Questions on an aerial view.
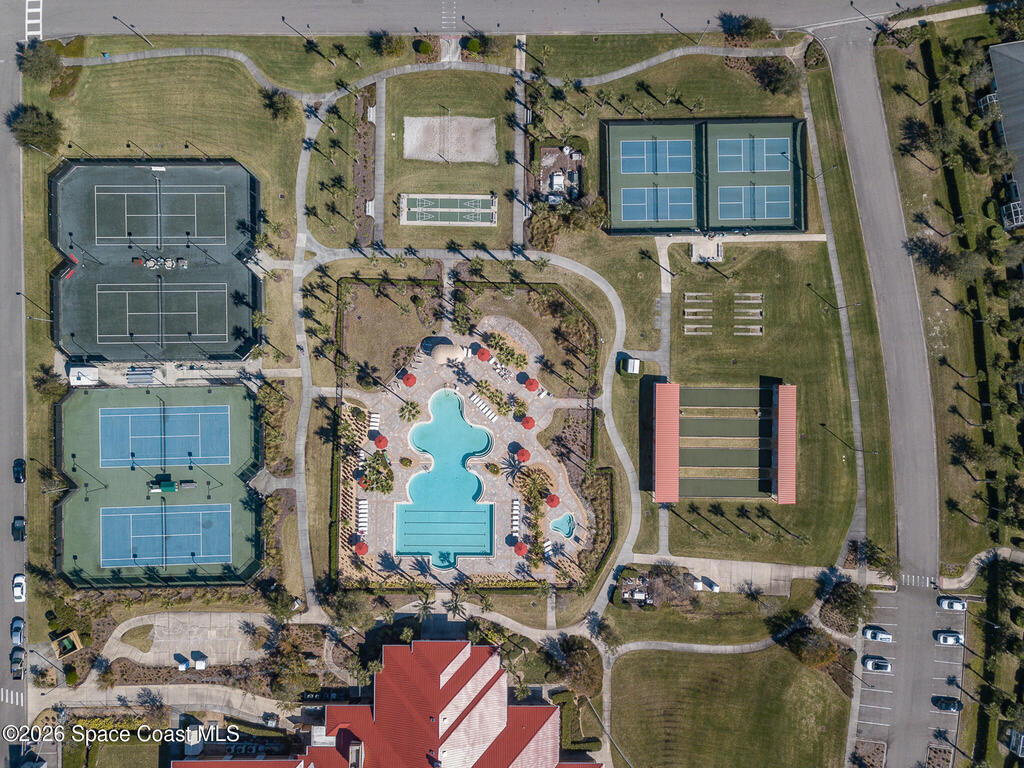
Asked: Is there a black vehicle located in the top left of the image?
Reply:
No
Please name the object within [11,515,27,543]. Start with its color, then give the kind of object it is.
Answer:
black vehicle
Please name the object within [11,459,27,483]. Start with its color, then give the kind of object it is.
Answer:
black car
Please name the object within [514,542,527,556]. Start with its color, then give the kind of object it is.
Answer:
red umbrella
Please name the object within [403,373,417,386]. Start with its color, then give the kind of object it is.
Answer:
red umbrella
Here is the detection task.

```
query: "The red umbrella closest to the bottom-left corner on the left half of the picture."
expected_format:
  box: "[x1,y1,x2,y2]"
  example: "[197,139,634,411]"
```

[355,541,368,554]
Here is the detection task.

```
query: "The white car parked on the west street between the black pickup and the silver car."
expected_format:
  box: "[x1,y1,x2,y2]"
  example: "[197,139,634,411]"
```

[12,575,28,600]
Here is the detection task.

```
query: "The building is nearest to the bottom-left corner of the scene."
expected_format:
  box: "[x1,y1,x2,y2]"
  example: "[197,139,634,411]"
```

[51,628,88,658]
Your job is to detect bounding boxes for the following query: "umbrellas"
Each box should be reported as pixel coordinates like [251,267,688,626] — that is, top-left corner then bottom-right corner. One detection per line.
[517,449,530,462]
[525,378,538,391]
[375,436,388,448]
[521,416,535,429]
[355,541,368,554]
[403,373,417,386]
[357,476,370,489]
[514,542,527,556]
[546,493,560,507]
[477,348,491,361]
